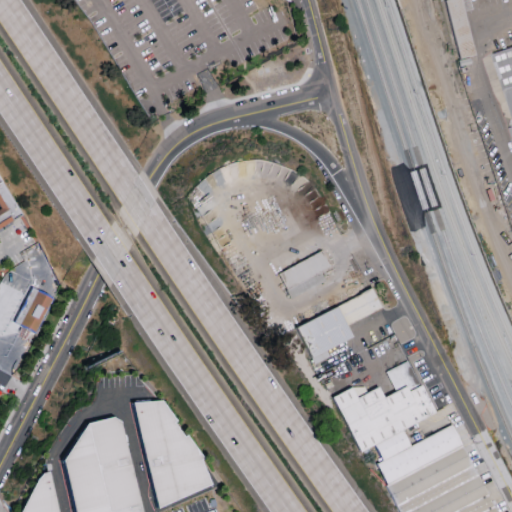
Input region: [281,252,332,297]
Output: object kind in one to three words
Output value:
shed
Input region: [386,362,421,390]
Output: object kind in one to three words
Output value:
building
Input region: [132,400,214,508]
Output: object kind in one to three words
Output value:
building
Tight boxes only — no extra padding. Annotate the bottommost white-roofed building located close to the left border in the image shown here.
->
[23,472,60,512]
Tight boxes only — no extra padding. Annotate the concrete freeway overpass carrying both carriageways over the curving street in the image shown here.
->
[90,167,166,287]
